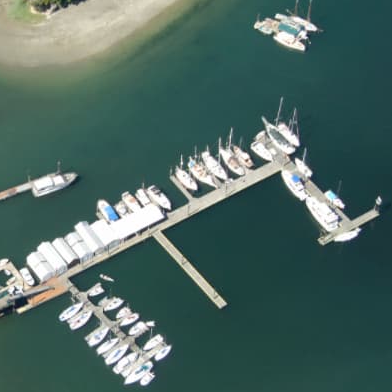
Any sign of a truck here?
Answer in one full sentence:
No, no truck is visible in the scene.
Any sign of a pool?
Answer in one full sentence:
No, the picture doesn't show any pool.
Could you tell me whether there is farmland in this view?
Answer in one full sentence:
No, there is no farmland in the image.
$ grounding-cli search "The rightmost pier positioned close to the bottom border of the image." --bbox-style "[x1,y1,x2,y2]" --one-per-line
[74,288,167,377]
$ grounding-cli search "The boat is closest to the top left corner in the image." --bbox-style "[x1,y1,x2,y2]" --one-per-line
[32,163,77,198]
